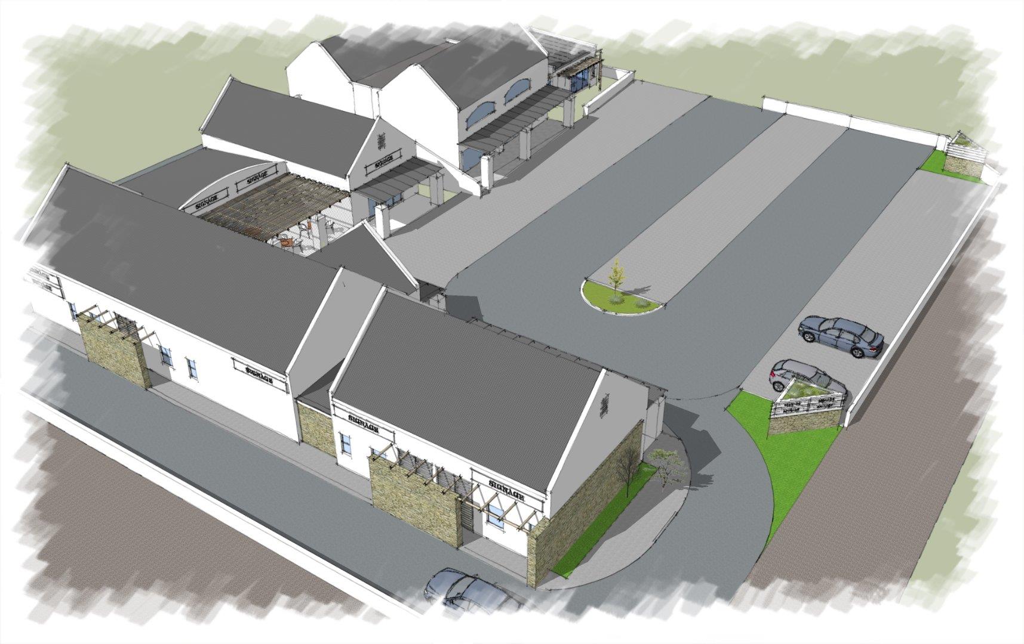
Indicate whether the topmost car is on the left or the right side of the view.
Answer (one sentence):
The topmost car is on the right side of the image.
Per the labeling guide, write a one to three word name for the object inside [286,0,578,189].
building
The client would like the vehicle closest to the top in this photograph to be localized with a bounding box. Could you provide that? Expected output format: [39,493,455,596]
[796,317,888,359]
